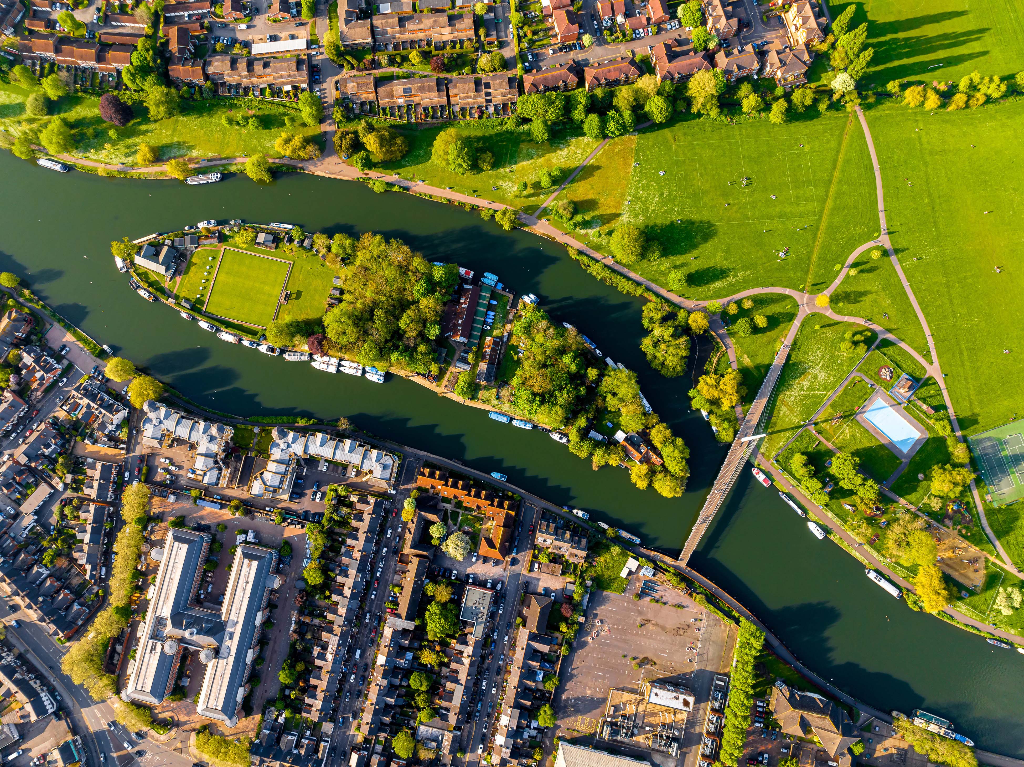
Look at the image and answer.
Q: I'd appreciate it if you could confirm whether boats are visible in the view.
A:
Yes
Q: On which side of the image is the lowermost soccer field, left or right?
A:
right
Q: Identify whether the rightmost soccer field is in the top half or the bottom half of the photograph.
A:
top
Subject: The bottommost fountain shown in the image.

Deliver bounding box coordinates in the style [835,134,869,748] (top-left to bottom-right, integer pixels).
[889,747,907,766]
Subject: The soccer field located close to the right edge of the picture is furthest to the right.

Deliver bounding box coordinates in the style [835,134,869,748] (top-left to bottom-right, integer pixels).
[866,0,975,64]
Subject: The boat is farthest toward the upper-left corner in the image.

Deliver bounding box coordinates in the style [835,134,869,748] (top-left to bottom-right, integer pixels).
[39,159,69,174]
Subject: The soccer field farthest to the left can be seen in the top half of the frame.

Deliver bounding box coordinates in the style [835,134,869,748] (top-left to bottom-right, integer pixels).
[673,136,817,225]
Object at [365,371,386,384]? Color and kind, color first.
white boat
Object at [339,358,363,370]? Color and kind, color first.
white boat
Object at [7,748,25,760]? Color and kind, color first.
white vehicle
